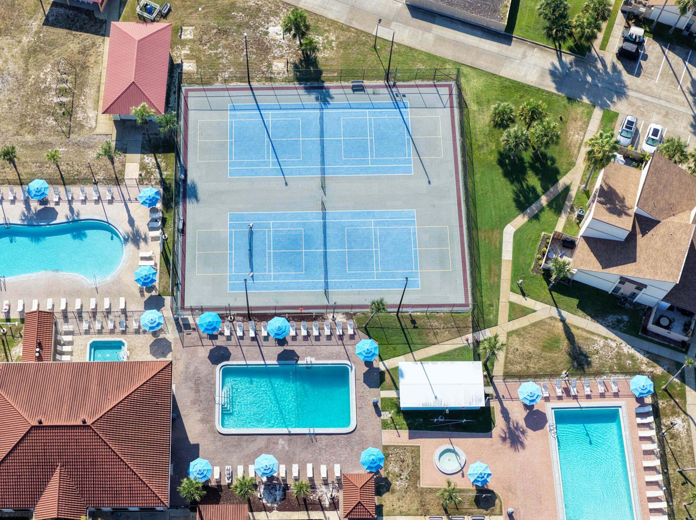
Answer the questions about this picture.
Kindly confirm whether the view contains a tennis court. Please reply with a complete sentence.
Yes, this view includes a tennis court.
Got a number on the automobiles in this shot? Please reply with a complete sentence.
There are 2 automobiles in the image.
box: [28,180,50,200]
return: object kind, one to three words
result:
umbrella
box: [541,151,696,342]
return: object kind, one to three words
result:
house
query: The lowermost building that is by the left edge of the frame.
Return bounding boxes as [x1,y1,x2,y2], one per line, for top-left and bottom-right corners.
[0,359,173,520]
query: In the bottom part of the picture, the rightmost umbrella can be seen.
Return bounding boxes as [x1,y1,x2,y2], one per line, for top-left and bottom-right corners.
[630,375,653,397]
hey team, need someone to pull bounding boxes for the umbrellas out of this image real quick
[197,313,220,334]
[135,265,158,285]
[360,448,384,470]
[267,317,288,338]
[28,180,50,200]
[466,464,490,488]
[630,375,653,397]
[256,456,278,479]
[356,344,378,366]
[137,188,158,207]
[141,312,164,332]
[518,384,541,406]
[189,460,213,481]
